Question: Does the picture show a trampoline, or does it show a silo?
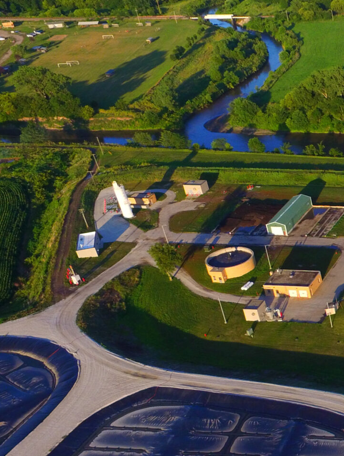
silo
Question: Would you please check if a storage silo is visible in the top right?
No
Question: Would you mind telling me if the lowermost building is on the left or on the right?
right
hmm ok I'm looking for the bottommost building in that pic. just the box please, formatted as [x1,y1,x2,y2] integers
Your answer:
[242,300,268,321]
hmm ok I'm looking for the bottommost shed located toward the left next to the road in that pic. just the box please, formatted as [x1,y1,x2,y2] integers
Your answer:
[76,230,112,258]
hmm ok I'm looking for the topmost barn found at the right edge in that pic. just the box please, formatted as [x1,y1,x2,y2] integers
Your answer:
[265,193,332,235]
